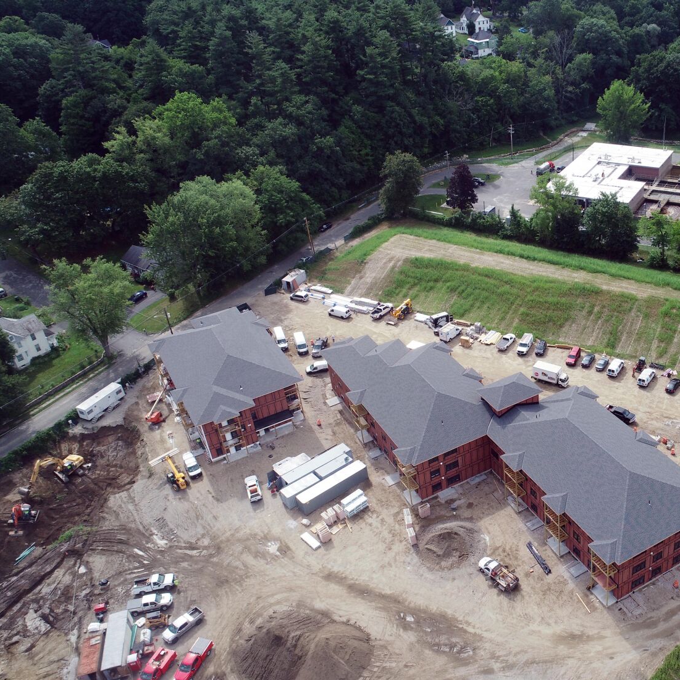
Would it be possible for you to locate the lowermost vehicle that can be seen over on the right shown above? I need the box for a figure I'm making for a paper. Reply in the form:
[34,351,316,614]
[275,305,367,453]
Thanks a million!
[480,559,523,592]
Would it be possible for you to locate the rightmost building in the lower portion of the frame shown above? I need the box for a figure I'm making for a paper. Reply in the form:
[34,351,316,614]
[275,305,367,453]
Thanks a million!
[321,335,680,607]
